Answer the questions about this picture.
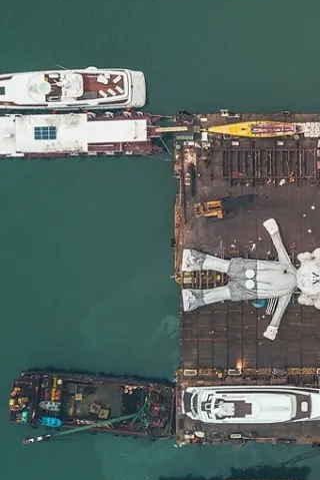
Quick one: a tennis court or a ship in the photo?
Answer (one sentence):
The one in the frame is a ship.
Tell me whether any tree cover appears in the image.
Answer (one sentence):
No, the scene doesn't show any tree cover.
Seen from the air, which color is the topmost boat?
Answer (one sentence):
In this view, the topmost boat is white.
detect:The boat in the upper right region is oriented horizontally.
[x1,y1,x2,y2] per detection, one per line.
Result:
[203,121,305,137]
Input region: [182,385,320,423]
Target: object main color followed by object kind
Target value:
white boat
